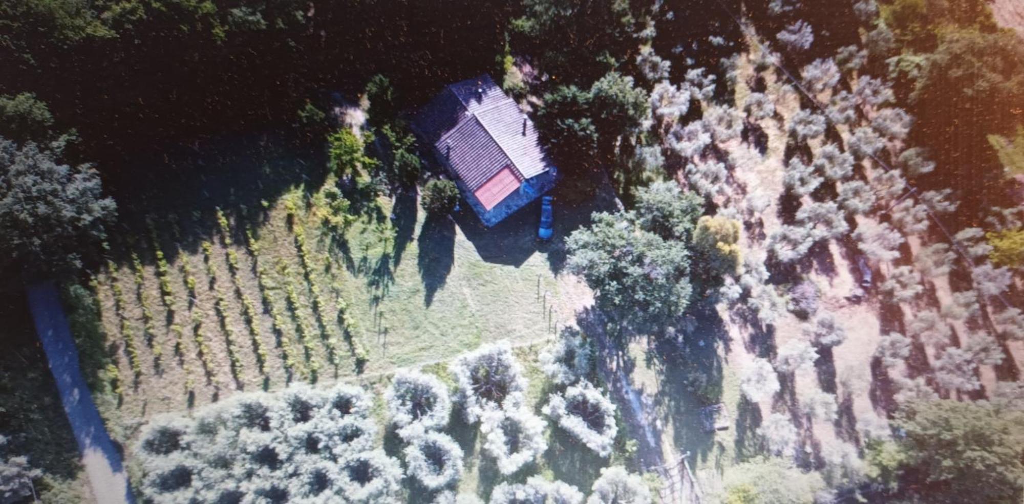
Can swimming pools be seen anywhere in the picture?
No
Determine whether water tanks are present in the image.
No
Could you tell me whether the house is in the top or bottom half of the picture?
top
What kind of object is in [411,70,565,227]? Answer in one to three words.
house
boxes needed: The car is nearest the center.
[536,198,555,241]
